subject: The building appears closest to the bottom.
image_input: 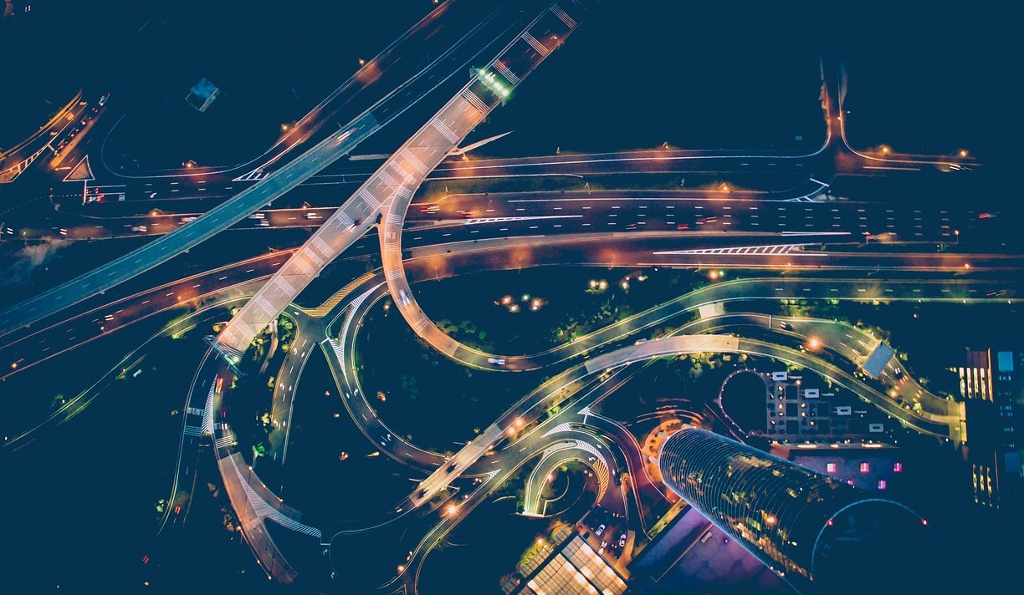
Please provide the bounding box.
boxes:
[484,528,632,595]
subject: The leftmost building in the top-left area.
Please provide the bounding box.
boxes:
[185,78,227,117]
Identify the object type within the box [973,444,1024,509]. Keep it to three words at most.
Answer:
building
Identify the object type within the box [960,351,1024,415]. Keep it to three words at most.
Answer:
building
